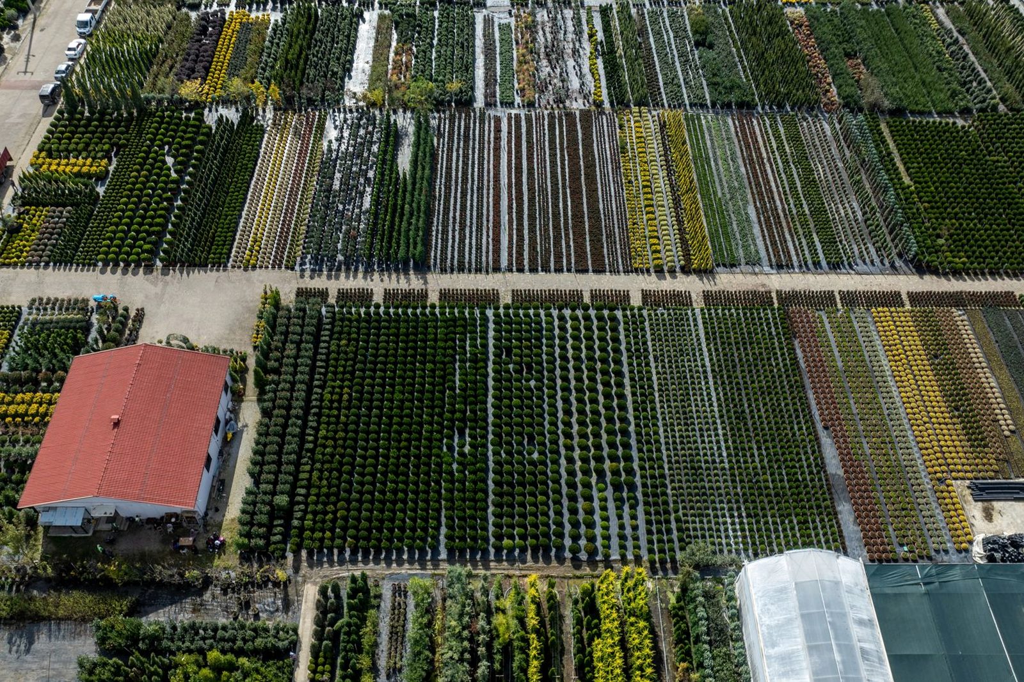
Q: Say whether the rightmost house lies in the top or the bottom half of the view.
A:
bottom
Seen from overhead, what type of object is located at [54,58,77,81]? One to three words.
car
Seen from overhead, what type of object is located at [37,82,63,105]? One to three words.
car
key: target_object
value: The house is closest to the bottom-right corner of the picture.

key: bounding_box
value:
[863,563,1024,682]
